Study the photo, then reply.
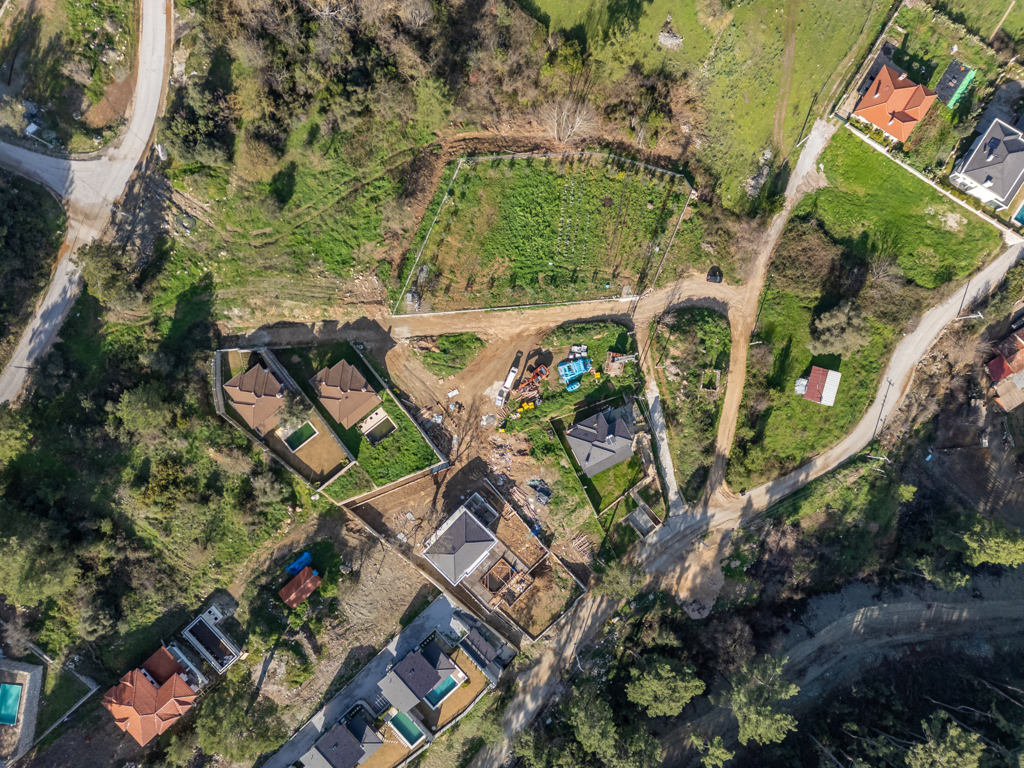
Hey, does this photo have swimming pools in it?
Yes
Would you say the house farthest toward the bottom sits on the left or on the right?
left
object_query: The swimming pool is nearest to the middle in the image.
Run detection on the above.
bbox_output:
[359,407,398,446]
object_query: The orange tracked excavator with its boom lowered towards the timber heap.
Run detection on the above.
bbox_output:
[510,363,551,395]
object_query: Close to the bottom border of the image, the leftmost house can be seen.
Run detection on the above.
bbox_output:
[101,643,207,747]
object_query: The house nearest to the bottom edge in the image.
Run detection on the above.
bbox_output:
[300,706,384,768]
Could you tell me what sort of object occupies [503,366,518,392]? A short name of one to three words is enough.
vehicle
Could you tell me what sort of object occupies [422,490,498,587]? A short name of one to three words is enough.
house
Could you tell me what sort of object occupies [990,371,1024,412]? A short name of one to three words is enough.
barn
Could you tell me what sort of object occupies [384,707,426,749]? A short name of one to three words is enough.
swimming pool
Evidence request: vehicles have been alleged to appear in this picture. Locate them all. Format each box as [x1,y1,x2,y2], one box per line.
[494,394,502,408]
[707,275,723,283]
[503,366,518,392]
[1010,318,1024,331]
[860,74,875,93]
[510,363,551,395]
